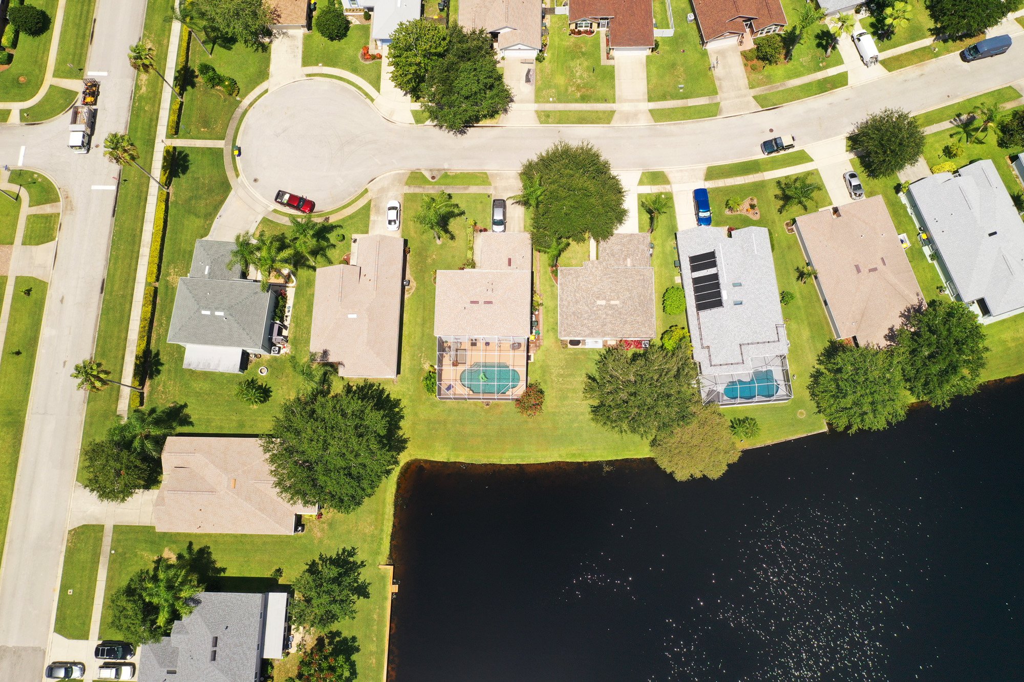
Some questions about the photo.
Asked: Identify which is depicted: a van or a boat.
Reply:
van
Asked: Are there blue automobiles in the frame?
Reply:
Yes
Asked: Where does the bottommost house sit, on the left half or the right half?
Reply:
left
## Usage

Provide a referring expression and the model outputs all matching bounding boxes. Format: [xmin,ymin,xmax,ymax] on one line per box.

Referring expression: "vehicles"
[846,167,867,198]
[761,130,798,152]
[271,187,314,212]
[65,99,91,153]
[89,644,133,663]
[490,196,506,232]
[855,25,885,63]
[960,30,1020,60]
[92,664,133,682]
[40,663,83,682]
[695,185,713,225]
[385,198,399,229]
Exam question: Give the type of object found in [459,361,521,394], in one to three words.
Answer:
swimming pool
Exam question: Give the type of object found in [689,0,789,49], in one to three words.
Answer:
house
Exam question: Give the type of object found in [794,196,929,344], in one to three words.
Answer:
house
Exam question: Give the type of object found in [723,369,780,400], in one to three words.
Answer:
swimming pool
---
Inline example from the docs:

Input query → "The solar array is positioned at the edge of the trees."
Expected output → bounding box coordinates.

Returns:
[689,249,785,366]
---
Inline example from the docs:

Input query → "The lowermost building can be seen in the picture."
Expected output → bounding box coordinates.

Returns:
[139,592,272,682]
